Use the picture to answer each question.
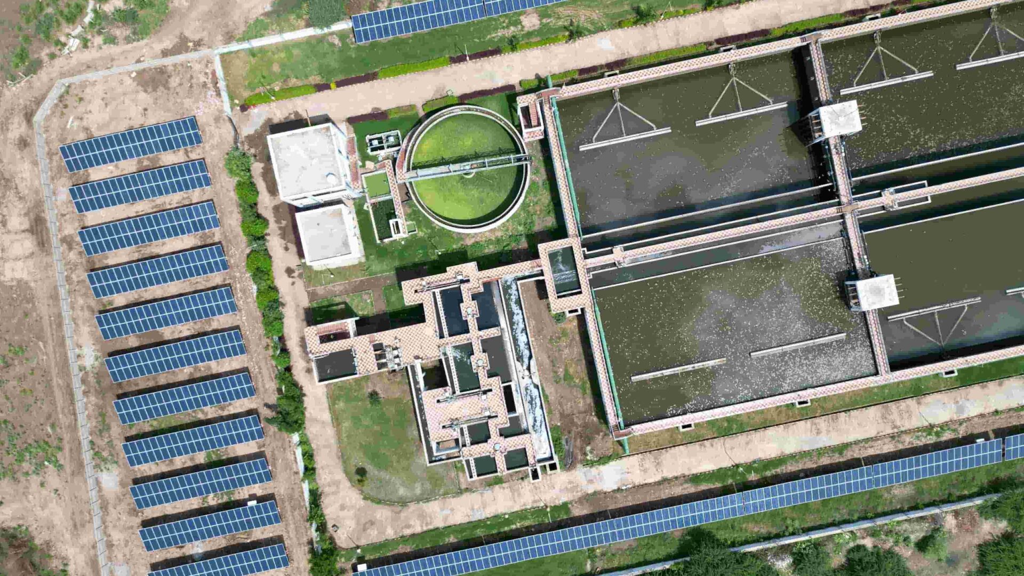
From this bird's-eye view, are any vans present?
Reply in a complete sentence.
No, I can't see a single van in this photo.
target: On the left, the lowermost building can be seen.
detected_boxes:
[295,195,368,266]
